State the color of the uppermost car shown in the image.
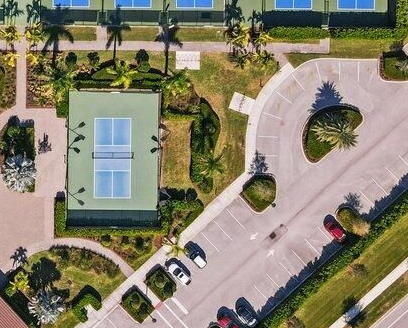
red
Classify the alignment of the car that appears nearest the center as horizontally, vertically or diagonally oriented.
diagonally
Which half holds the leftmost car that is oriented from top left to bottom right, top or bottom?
bottom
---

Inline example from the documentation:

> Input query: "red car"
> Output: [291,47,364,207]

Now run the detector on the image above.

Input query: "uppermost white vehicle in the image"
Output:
[184,247,209,272]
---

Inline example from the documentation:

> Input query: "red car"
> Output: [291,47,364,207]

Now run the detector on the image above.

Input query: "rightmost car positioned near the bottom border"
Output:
[234,302,262,328]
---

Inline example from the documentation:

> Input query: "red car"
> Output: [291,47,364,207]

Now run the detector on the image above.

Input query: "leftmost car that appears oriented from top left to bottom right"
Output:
[165,260,193,287]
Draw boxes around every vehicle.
[217,312,241,328]
[321,217,348,244]
[234,302,262,328]
[184,247,209,272]
[165,260,193,287]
